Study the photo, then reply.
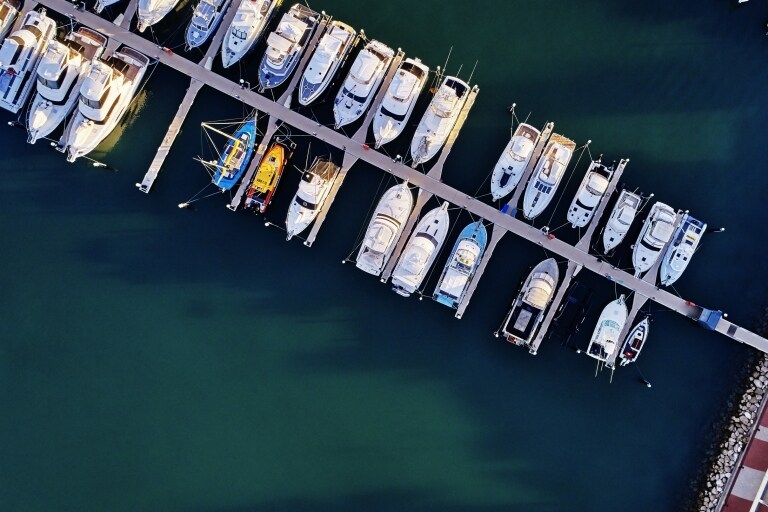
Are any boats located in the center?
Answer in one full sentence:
Yes, a boat appears in the center.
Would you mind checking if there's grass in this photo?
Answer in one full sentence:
No, no grass is visible.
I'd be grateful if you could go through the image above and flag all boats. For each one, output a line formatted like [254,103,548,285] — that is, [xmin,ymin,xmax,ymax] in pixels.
[490,113,542,201]
[97,0,124,15]
[598,187,641,253]
[623,202,676,277]
[69,50,155,160]
[184,0,233,52]
[0,10,51,115]
[245,143,284,211]
[620,318,649,365]
[300,21,358,104]
[502,259,556,345]
[388,201,447,298]
[136,0,184,37]
[195,112,258,196]
[30,25,110,142]
[659,214,707,287]
[568,159,614,227]
[286,144,340,241]
[354,178,411,275]
[223,0,282,68]
[525,133,578,218]
[374,58,430,149]
[433,217,486,307]
[334,40,394,129]
[258,3,322,91]
[413,49,478,169]
[585,295,625,384]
